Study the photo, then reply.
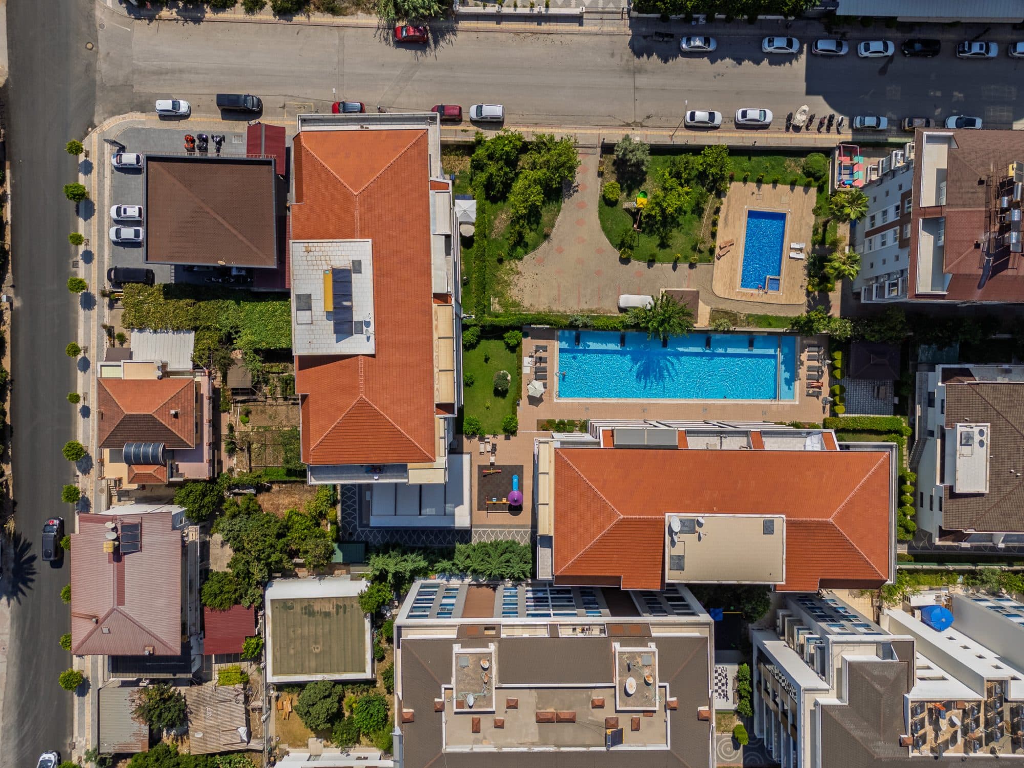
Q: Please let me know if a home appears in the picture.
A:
Yes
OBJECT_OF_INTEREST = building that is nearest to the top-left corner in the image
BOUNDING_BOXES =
[142,153,285,269]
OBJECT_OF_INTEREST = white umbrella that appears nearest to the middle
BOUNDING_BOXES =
[527,378,546,397]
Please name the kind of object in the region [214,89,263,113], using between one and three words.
vehicle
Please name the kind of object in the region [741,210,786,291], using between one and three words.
swimming pool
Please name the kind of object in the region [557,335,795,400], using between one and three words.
swimming pool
